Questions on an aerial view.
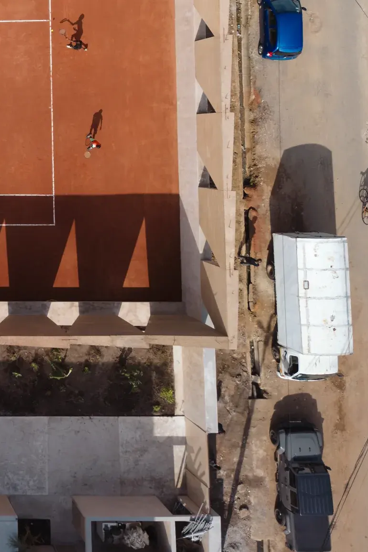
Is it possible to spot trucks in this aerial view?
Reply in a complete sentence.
Yes, this view includes a truck.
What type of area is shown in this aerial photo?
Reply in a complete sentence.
What you see here is a sports ground.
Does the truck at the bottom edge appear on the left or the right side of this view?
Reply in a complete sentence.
The truck at the bottom edge appears in the right half of the scene.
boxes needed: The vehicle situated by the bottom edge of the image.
[283,422,349,552]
